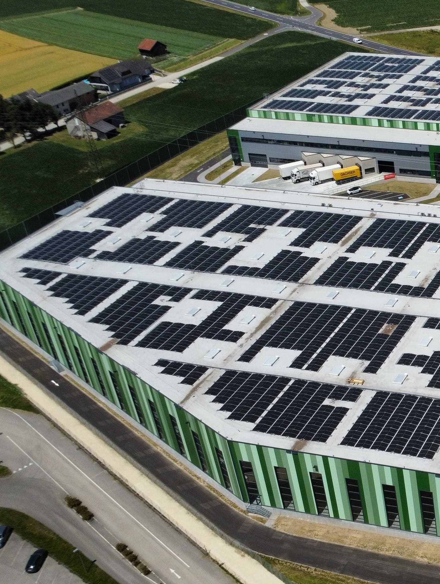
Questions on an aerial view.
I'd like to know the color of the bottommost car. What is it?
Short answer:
black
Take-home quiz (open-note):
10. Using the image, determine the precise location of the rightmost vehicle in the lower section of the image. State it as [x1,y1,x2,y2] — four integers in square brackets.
[23,545,45,572]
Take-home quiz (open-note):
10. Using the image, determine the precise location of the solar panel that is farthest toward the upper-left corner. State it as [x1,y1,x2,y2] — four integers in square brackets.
[103,64,130,80]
